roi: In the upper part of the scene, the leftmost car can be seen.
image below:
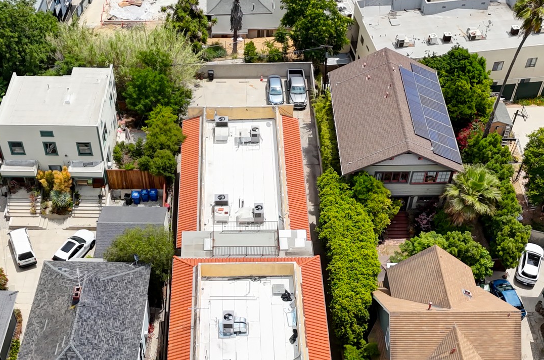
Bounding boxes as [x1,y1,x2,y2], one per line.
[264,79,285,105]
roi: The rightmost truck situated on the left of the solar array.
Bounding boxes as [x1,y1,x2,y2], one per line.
[286,72,309,113]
